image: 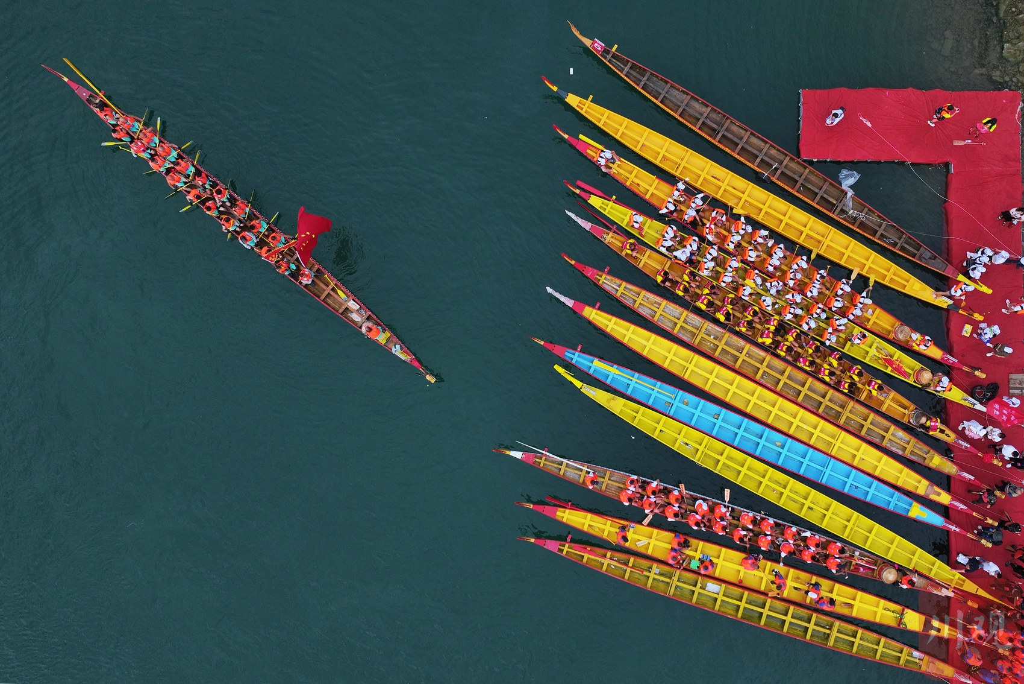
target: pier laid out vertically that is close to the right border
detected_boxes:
[799,86,1024,684]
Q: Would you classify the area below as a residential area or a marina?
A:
marina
